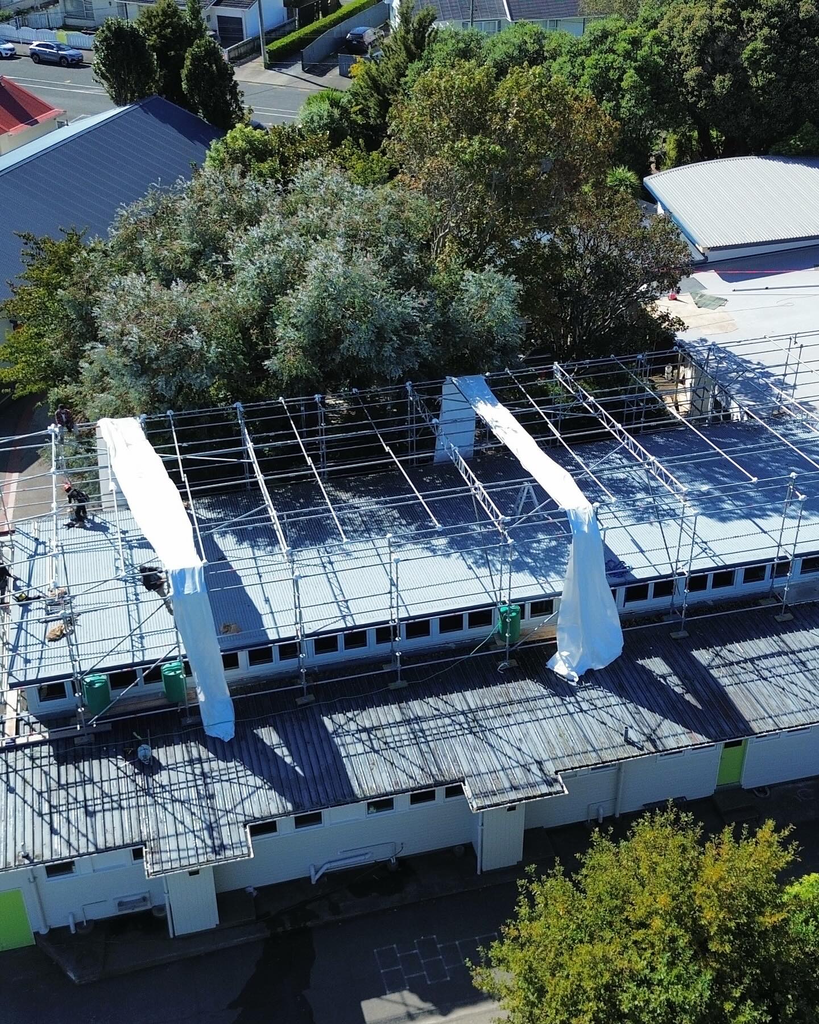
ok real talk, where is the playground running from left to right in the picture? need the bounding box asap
[0,854,819,1024]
